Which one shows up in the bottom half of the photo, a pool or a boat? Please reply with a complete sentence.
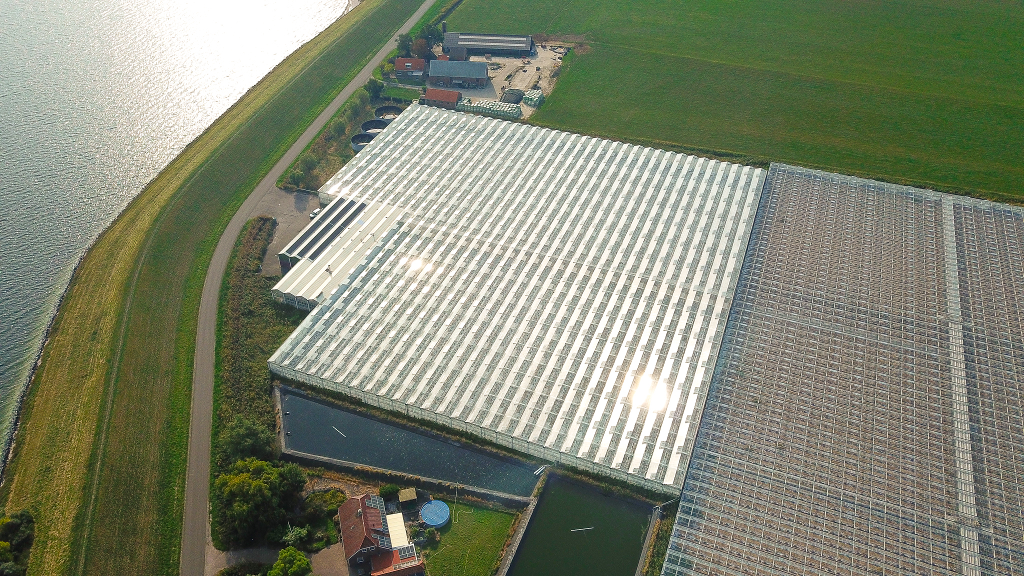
What appears in the bottom half of the photo is a pool.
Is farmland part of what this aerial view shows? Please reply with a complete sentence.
Yes, there's farmland in this view.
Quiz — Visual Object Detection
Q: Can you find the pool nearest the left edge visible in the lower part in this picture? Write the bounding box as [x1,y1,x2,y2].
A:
[419,500,450,532]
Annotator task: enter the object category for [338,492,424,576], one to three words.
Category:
house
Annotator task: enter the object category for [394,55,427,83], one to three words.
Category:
house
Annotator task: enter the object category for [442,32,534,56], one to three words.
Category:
barn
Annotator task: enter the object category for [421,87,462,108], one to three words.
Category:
shed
